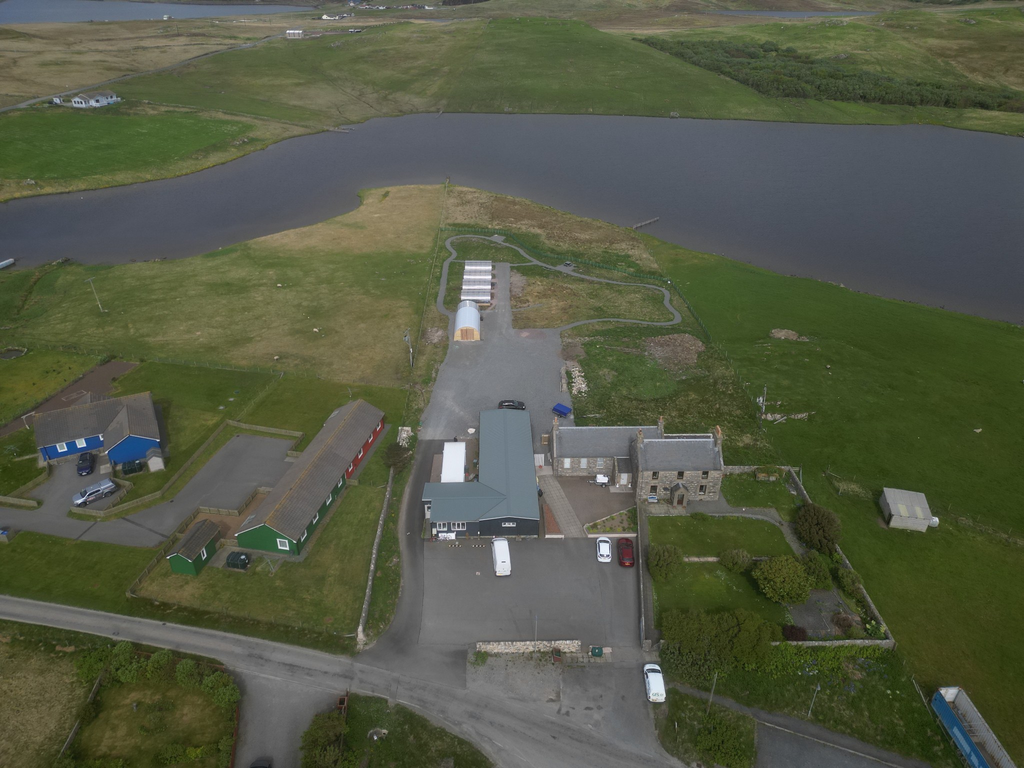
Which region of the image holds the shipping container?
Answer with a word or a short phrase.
bottom right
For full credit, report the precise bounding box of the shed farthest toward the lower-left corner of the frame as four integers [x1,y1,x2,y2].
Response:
[167,519,224,575]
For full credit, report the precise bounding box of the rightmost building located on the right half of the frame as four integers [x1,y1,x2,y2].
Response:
[882,486,931,532]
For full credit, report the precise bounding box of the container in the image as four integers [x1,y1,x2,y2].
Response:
[930,686,1015,768]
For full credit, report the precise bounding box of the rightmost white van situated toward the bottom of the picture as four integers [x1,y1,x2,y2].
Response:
[637,660,668,702]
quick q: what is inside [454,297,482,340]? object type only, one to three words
greenhouse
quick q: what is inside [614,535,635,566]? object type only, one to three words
car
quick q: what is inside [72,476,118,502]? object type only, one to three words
truck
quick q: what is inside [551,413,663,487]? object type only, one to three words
building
